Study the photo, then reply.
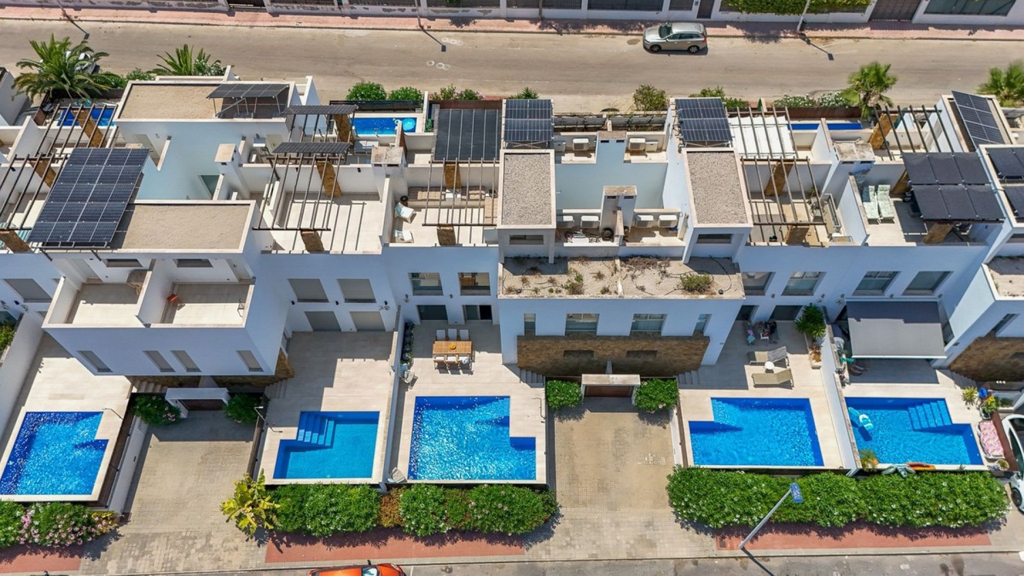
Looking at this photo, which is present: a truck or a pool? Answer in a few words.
pool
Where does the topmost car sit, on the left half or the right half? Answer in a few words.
right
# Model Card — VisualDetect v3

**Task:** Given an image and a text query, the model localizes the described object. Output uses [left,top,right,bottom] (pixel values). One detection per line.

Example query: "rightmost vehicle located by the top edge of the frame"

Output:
[642,22,709,56]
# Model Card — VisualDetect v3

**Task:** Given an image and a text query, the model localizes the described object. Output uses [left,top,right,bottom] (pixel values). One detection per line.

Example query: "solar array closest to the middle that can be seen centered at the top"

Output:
[501,97,554,149]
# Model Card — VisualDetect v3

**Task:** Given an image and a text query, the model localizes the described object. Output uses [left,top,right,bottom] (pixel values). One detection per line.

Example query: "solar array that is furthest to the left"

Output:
[27,155,150,249]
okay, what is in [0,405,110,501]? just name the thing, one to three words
swimming pool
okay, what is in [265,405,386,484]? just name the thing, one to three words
swimming pool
